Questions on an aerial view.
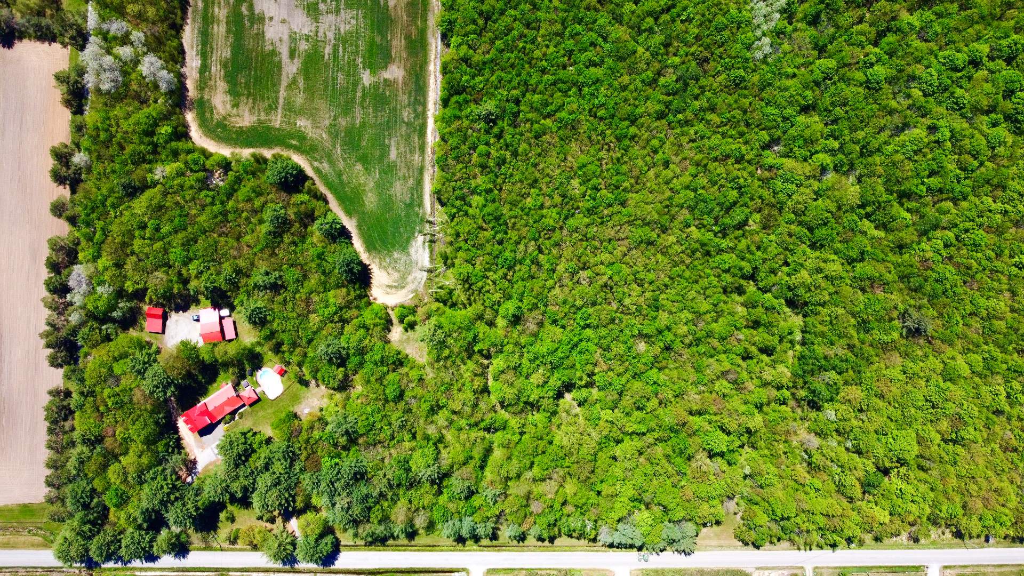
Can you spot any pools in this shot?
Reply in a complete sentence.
Yes, the image includes a pool.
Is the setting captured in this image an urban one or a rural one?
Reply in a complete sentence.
This place is rural.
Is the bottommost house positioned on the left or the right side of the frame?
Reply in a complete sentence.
It is on the left.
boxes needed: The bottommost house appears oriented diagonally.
[181,384,244,433]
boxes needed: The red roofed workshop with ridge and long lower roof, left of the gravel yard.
[146,307,167,333]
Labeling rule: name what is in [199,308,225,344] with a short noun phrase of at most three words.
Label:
barn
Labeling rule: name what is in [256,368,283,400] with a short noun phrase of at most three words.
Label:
swimming pool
